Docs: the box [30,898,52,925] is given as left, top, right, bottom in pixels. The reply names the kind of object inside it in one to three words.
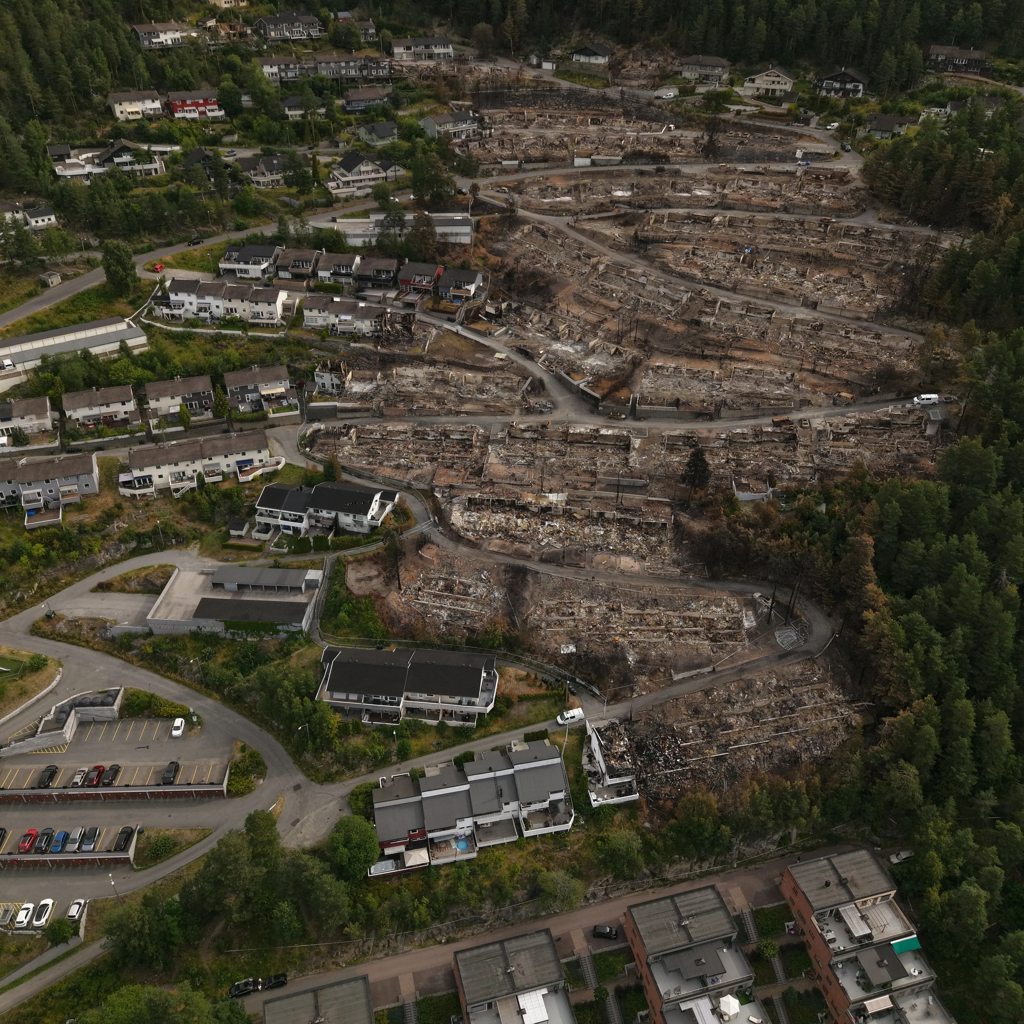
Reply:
car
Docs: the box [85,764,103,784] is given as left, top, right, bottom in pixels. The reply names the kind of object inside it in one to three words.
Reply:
car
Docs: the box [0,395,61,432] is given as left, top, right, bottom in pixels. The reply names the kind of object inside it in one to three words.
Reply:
house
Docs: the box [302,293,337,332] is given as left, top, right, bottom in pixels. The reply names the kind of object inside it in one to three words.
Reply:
house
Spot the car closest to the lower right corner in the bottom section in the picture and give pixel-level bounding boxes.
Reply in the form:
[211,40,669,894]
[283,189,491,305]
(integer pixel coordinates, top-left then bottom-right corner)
[889,847,917,865]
